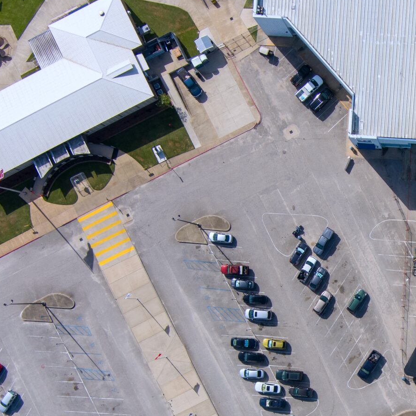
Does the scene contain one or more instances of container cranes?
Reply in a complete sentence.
No, no container crane can be seen from above.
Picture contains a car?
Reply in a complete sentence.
Yes, looking at the shot, I can spot a car.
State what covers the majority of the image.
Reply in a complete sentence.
Most of the picture is covered by paved ground.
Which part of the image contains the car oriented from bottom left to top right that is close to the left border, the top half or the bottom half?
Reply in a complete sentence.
The bottom half of the photo is where the car oriented from bottom left to top right that is close to the left border is.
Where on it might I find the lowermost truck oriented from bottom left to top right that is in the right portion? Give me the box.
[358,348,383,380]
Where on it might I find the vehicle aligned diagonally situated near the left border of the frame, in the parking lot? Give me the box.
[0,389,20,415]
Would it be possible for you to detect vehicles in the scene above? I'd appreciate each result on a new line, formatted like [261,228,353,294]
[295,254,320,287]
[260,397,287,410]
[0,389,20,415]
[263,338,288,350]
[219,263,253,277]
[231,338,258,350]
[289,387,315,399]
[297,72,323,105]
[308,266,329,291]
[288,241,309,267]
[311,289,333,316]
[313,224,338,256]
[290,63,311,90]
[207,232,234,244]
[254,382,281,394]
[246,309,272,322]
[276,369,305,382]
[310,86,332,115]
[346,289,368,315]
[242,294,269,305]
[178,68,203,99]
[239,352,266,364]
[358,348,383,380]
[240,368,266,380]
[230,278,256,290]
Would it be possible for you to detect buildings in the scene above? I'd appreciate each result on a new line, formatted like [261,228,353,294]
[253,0,416,151]
[0,0,156,198]
[195,35,217,54]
